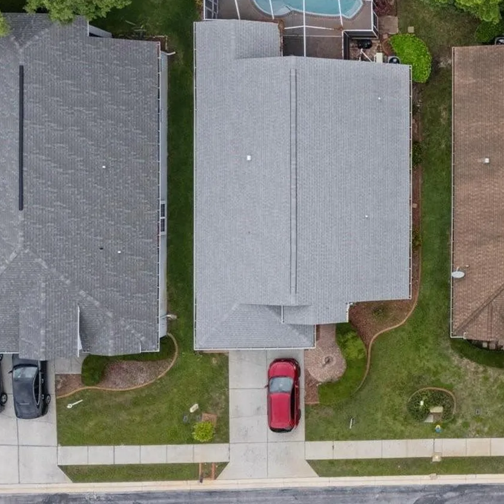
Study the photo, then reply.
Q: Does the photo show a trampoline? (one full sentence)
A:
No, there appears to be no trampoline in this shot.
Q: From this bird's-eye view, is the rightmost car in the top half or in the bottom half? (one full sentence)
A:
You can find the rightmost car in the bottom half.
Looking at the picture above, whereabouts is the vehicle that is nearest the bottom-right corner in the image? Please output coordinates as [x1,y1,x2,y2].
[263,359,302,430]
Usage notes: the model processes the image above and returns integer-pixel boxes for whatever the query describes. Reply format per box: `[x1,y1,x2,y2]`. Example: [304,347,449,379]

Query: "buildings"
[0,12,177,361]
[192,18,415,352]
[450,45,504,340]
